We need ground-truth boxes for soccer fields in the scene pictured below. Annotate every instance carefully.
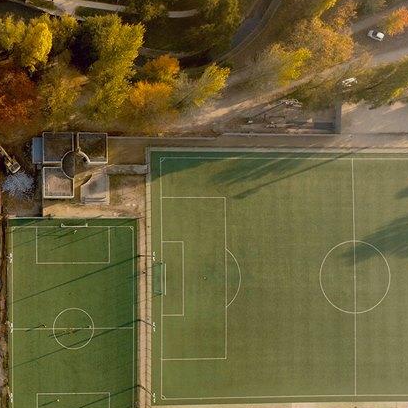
[151,153,408,404]
[8,219,137,408]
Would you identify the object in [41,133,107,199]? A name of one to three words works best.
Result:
building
